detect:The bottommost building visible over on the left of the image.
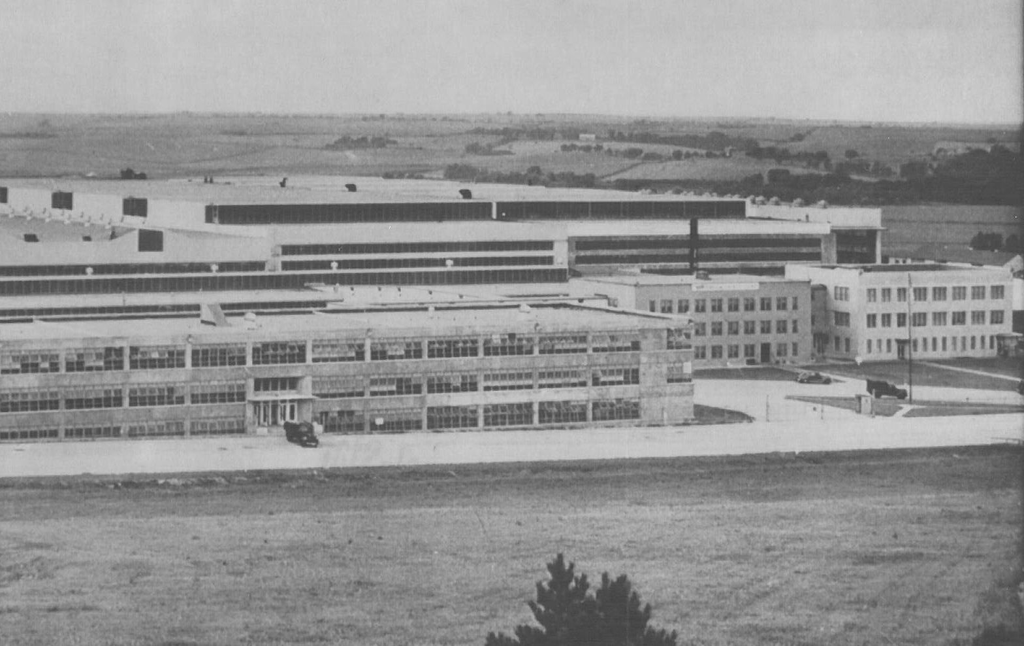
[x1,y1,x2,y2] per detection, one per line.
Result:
[0,297,694,442]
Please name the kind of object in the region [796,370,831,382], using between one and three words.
vehicle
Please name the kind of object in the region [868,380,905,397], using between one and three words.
vehicle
